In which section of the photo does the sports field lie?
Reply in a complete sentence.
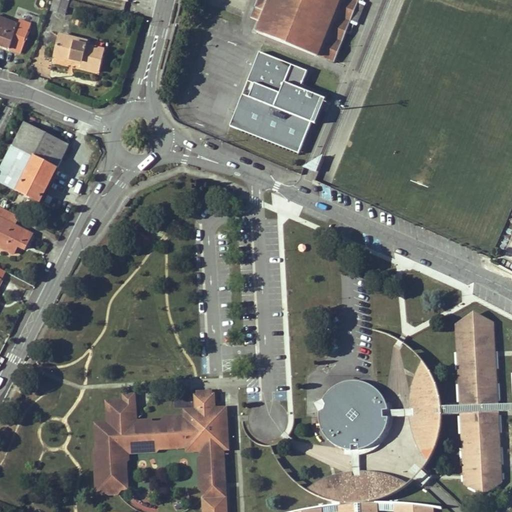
The sports field is in the top right part of the image.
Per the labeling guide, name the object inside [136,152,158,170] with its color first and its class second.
white vehicle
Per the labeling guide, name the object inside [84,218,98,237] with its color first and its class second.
white vehicle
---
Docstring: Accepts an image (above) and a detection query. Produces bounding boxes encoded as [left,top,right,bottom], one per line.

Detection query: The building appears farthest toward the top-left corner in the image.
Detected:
[0,14,32,54]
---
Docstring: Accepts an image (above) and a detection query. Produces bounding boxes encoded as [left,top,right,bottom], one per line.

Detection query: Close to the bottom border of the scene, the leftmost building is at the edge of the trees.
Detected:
[94,390,228,512]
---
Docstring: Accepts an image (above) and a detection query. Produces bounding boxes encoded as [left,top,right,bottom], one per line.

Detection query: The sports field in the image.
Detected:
[331,0,512,254]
